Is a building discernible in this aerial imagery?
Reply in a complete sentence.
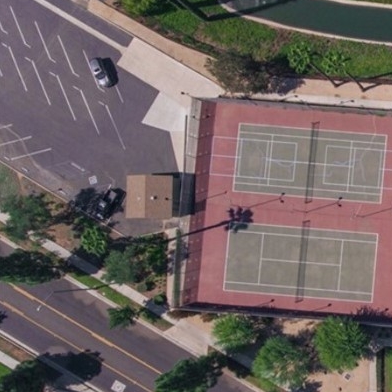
Yes, there's a building down there.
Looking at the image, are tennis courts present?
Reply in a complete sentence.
Yes, a tennis court is visible in the scene.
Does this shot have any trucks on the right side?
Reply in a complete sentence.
No, I see no truck on the right side.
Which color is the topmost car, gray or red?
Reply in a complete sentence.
The topmost car looks gray in the image.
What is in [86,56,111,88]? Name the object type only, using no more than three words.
car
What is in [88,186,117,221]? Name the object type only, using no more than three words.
truck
